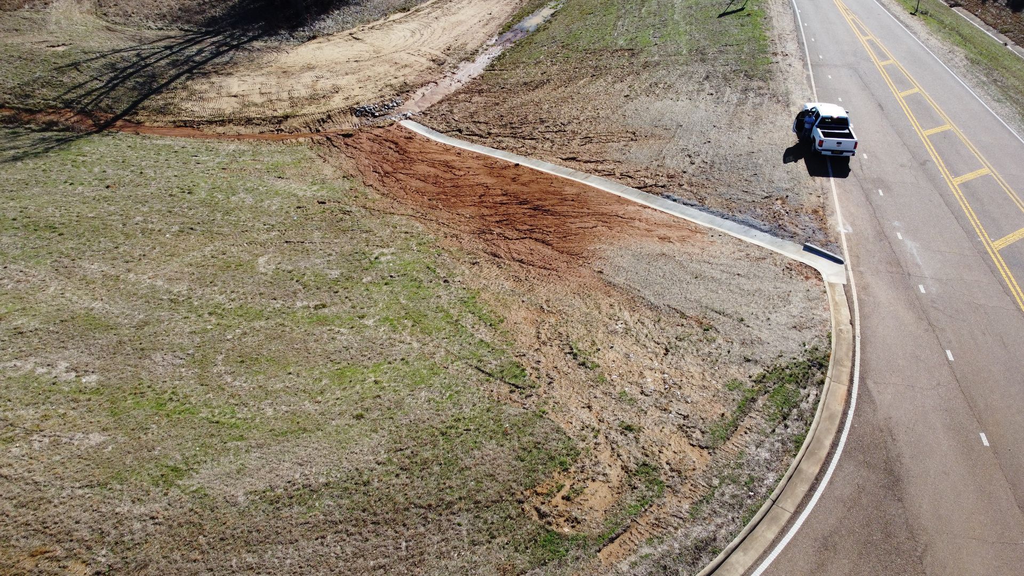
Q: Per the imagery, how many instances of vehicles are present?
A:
1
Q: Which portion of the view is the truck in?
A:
top right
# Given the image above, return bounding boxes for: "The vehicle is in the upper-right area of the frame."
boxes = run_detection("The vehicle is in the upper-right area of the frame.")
[788,101,857,157]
